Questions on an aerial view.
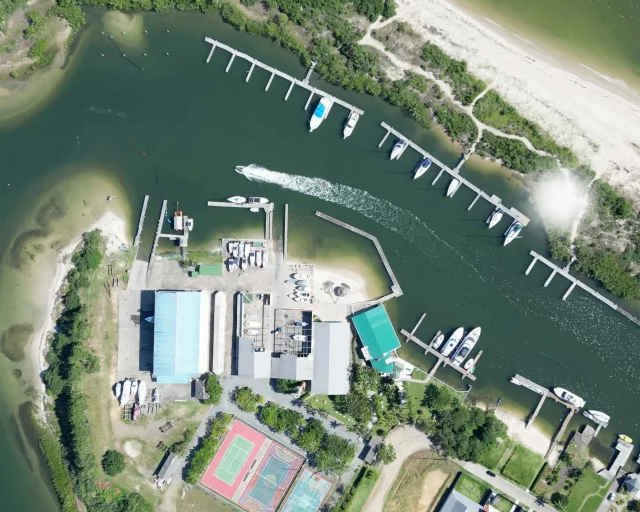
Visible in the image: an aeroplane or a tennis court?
tennis court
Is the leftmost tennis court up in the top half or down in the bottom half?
bottom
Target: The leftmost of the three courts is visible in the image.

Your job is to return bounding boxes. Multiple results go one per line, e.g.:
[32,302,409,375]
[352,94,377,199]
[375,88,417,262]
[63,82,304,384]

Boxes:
[202,419,266,499]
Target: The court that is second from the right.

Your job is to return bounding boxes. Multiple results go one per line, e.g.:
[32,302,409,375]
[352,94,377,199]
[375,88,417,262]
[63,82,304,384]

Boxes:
[238,442,303,512]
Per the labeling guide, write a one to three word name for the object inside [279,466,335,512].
basketball court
